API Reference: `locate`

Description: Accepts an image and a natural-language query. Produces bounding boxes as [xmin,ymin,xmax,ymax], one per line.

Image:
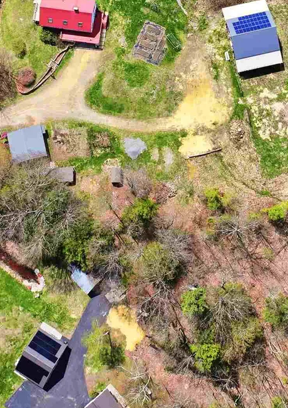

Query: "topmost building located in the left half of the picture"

[33,0,112,54]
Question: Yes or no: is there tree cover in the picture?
Yes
